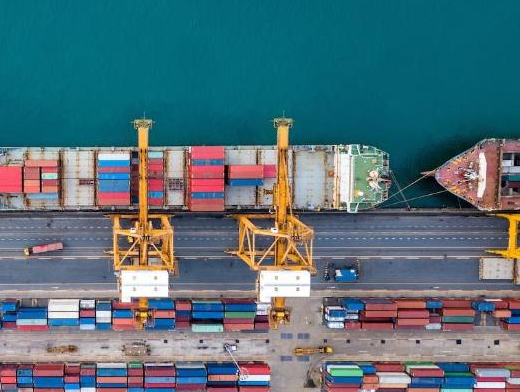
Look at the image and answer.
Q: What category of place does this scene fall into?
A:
port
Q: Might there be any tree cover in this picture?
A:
No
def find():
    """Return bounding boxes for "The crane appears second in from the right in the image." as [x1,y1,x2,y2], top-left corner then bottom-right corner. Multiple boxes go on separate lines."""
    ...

[227,111,319,329]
